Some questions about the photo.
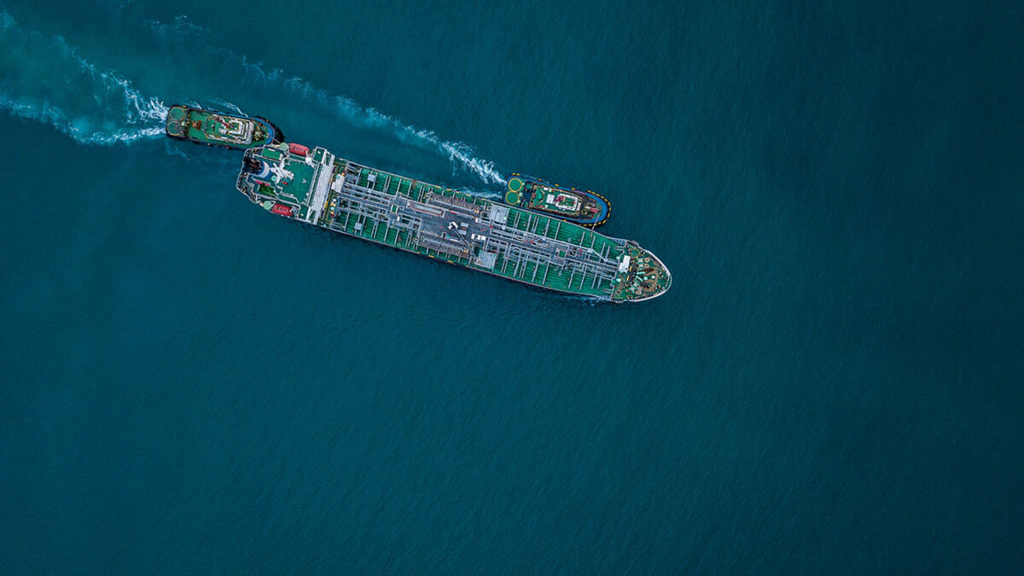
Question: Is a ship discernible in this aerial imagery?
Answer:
Yes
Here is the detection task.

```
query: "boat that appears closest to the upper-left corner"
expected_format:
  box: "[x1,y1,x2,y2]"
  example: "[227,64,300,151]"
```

[165,105,284,153]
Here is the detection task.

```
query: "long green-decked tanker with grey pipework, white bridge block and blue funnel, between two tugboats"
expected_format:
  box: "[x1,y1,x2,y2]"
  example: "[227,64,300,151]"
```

[235,143,671,302]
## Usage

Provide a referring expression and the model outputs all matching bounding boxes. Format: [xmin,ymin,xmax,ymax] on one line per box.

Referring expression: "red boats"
[274,206,294,216]
[290,145,310,156]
